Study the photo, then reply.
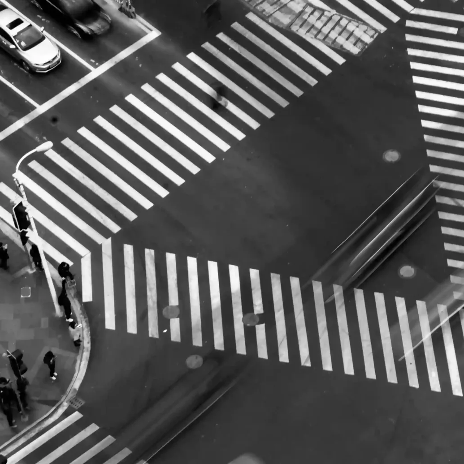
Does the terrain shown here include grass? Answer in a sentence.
No, the picture contains no grass.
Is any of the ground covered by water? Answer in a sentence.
No, there is no water in the image.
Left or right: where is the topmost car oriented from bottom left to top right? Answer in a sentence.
You can find the topmost car oriented from bottom left to top right on the right side of the picture.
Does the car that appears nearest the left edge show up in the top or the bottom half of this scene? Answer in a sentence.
The car that appears nearest the left edge sits in the top half of the picture.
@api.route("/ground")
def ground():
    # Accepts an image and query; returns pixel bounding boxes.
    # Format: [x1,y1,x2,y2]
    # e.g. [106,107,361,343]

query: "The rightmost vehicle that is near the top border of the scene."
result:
[33,0,114,41]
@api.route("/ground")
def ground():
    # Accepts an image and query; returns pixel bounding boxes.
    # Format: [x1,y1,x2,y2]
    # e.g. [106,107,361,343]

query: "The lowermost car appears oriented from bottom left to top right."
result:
[129,353,235,452]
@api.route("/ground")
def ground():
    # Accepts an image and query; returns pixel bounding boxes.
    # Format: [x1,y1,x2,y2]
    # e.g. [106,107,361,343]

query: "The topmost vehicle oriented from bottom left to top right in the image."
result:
[338,180,434,272]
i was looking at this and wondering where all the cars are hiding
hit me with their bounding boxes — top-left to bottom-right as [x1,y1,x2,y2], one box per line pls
[0,0,62,74]
[338,180,434,272]
[33,0,114,41]
[129,353,235,452]
[406,251,464,332]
